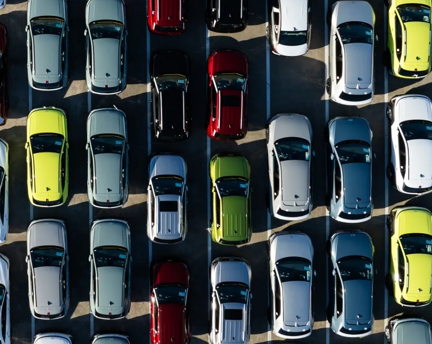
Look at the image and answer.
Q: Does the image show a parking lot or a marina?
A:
parking lot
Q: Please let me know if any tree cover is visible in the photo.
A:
No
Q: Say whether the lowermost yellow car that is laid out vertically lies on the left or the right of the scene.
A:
right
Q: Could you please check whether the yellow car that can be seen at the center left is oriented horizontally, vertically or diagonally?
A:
vertically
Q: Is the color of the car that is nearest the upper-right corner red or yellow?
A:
yellow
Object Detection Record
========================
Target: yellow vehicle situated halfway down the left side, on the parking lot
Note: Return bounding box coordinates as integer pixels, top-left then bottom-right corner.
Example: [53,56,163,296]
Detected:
[26,108,70,206]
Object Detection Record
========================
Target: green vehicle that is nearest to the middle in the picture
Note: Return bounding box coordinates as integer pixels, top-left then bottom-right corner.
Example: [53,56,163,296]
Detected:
[209,153,255,244]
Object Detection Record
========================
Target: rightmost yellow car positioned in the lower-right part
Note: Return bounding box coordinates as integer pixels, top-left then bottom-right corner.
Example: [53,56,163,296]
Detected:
[386,207,432,306]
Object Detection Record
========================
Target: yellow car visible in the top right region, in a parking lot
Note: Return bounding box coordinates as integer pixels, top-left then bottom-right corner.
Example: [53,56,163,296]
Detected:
[384,0,432,78]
